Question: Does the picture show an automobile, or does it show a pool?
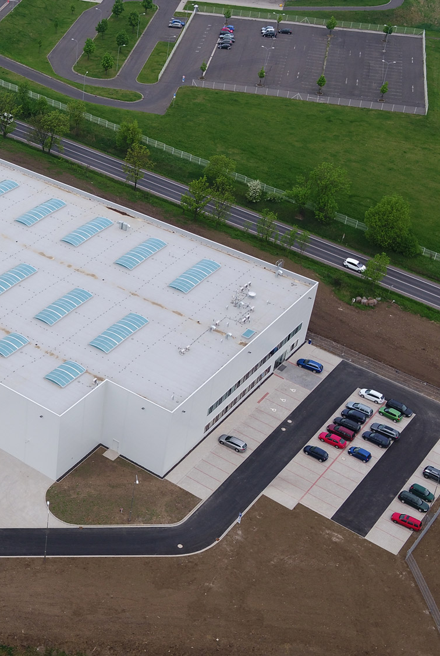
automobile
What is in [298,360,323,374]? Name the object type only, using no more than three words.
vehicle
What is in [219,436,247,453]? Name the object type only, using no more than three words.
car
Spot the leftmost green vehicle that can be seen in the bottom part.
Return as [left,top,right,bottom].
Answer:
[379,409,402,424]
